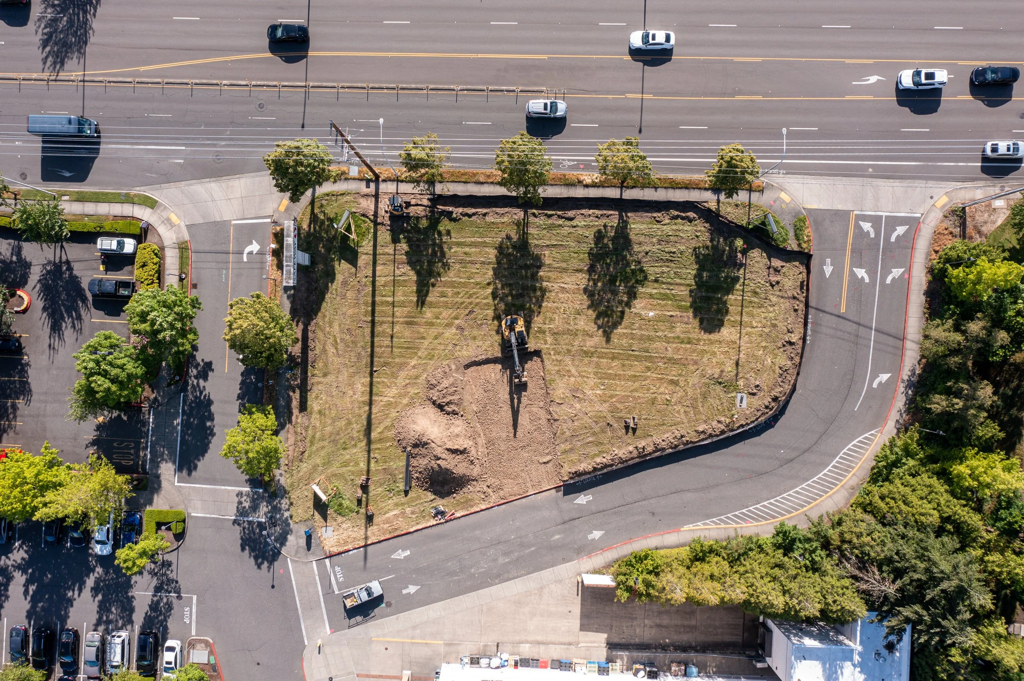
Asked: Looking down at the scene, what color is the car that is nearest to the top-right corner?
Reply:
black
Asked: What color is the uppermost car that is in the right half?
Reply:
white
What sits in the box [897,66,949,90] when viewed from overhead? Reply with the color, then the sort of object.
white car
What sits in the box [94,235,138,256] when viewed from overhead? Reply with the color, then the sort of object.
white car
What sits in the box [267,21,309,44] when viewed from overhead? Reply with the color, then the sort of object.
black car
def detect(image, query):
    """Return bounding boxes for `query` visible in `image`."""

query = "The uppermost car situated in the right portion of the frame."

[629,28,675,50]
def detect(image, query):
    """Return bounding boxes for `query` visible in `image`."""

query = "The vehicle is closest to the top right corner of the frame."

[972,64,1019,87]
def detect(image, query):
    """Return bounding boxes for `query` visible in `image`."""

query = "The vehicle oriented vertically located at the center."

[501,313,527,380]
